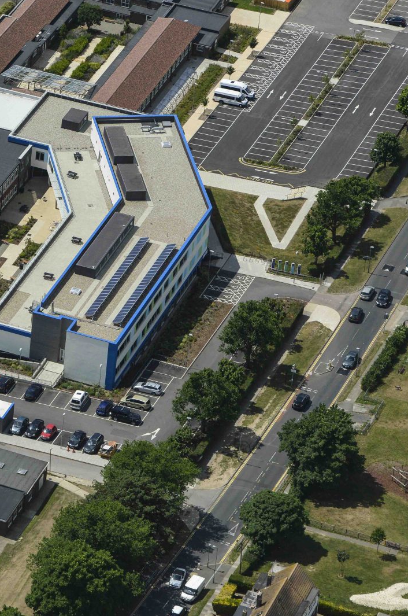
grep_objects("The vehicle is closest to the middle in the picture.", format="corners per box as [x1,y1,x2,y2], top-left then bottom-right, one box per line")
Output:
[134,380,163,394]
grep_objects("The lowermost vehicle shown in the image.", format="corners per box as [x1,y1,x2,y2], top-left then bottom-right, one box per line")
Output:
[170,601,187,616]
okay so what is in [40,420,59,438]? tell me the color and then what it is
red car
